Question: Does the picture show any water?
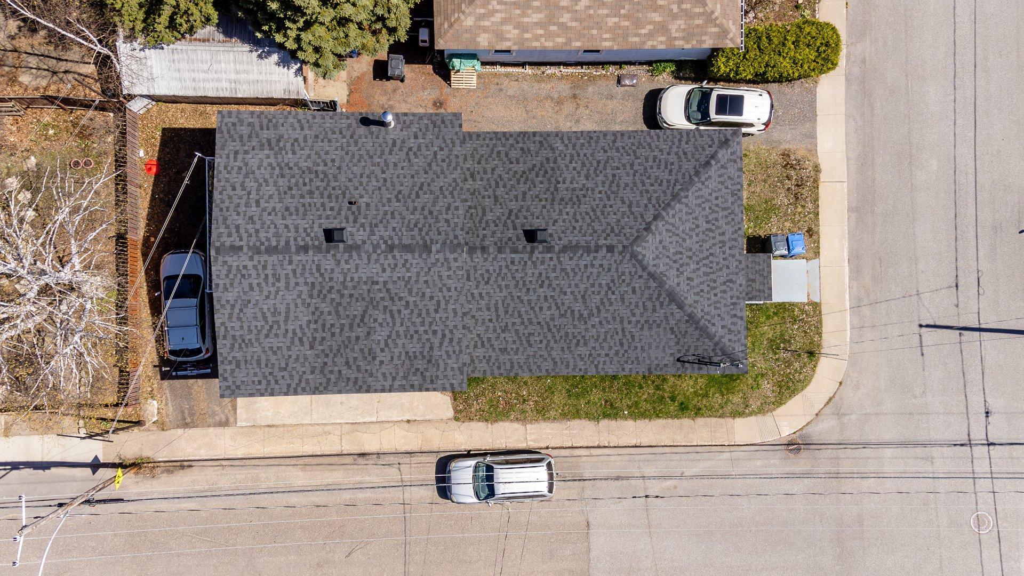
No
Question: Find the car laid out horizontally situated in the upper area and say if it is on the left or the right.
right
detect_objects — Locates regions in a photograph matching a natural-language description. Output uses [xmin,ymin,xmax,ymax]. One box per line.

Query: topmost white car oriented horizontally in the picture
[656,79,773,138]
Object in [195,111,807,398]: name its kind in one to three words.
house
